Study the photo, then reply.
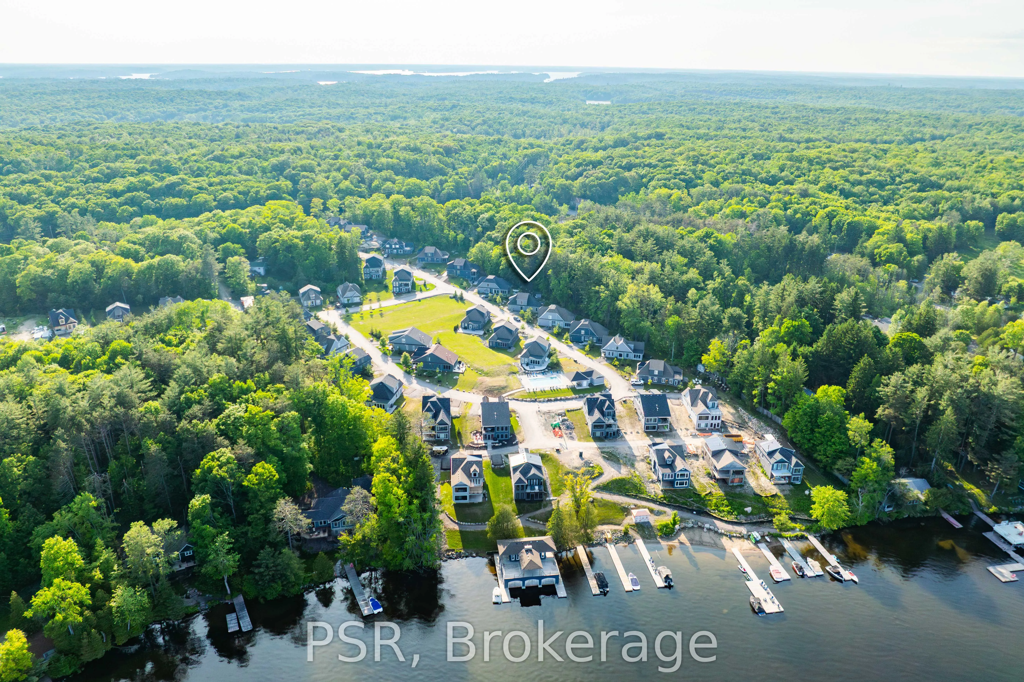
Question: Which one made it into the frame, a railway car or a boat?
boat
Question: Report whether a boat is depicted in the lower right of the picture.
Yes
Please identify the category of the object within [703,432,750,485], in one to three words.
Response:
house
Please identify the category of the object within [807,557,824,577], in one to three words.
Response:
boat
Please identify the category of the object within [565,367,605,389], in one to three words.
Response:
building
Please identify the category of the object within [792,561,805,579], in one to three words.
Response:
boat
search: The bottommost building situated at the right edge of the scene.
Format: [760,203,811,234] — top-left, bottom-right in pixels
[992,519,1024,552]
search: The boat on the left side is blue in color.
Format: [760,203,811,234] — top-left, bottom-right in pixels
[369,597,382,615]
